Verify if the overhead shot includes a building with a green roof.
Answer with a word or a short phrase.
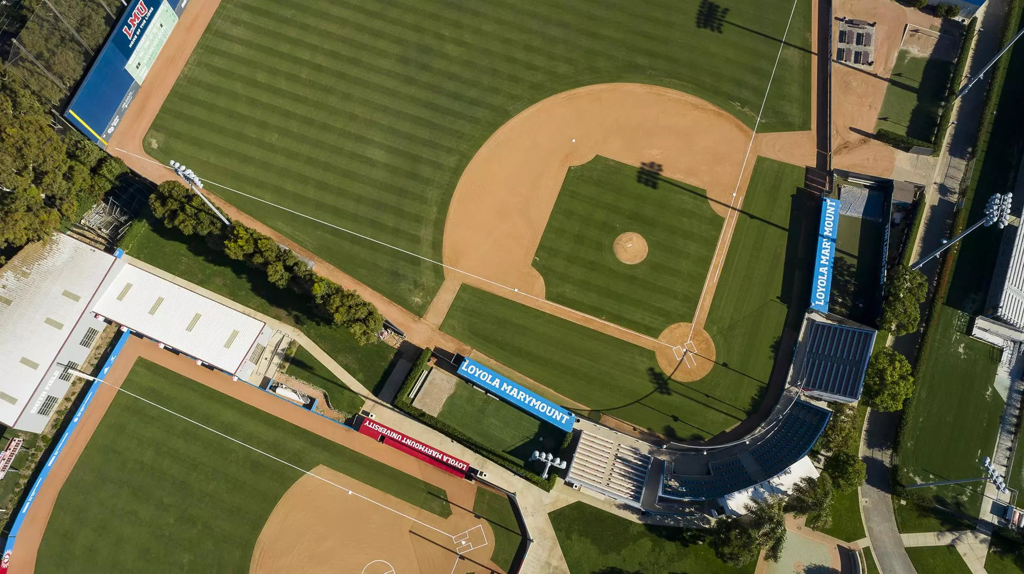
No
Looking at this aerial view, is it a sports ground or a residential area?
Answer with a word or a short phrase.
sports ground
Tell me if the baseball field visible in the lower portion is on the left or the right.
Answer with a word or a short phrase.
left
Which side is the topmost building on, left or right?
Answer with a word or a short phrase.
right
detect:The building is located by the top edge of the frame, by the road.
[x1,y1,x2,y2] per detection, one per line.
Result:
[920,0,985,28]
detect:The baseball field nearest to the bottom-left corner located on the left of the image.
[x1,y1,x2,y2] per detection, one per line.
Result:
[7,332,532,574]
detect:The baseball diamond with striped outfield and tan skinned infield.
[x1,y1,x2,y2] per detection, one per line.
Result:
[106,0,831,453]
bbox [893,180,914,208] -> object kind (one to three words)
shed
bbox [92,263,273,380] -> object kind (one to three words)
building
